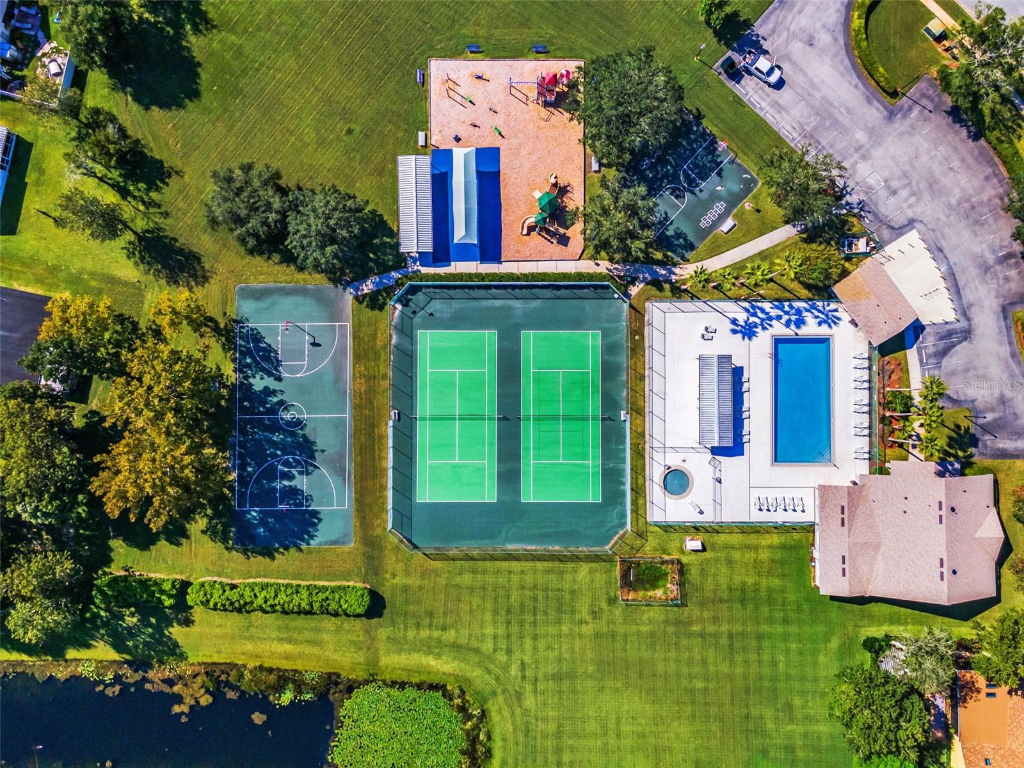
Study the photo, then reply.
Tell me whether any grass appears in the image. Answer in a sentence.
Yes, there's grass in this view.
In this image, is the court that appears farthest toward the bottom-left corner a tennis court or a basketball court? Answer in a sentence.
It turns out the court that appears farthest toward the bottom-left corner is a basketball court.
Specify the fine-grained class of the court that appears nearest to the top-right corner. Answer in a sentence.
It turns out the court that appears nearest to the top-right corner is a basketball court.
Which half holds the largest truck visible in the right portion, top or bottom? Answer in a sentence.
The top half of the photo is where the largest truck visible in the right portion is.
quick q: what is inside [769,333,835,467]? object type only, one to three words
swimming pool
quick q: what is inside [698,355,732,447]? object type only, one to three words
building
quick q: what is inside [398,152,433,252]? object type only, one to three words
building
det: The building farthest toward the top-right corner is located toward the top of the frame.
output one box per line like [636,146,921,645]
[832,257,917,346]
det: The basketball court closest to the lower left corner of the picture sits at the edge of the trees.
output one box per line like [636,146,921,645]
[235,285,353,547]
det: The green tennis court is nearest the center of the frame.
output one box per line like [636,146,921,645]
[392,286,628,548]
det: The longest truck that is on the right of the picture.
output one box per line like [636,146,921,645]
[742,48,785,87]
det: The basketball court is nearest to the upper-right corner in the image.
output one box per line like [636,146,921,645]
[617,111,760,260]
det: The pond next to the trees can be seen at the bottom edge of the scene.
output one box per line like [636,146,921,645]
[0,664,486,768]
